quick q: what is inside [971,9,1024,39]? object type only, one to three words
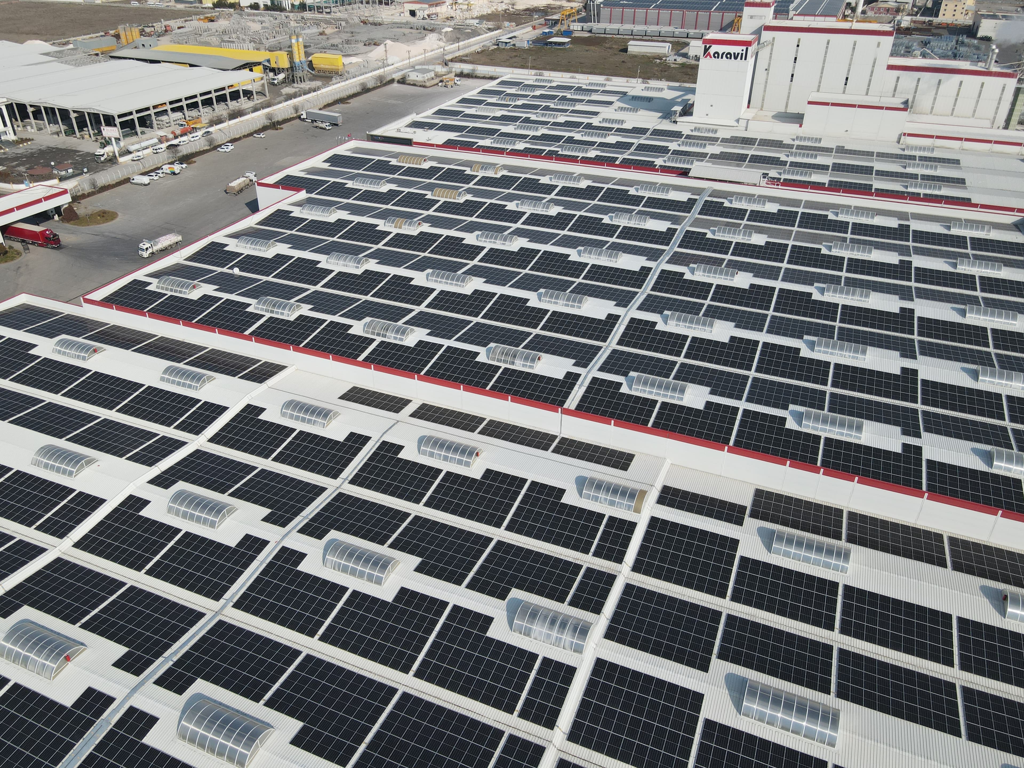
building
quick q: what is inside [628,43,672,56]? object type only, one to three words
shed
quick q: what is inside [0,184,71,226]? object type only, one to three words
building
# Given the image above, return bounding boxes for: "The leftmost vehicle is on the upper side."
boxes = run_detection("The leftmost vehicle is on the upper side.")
[0,221,61,248]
